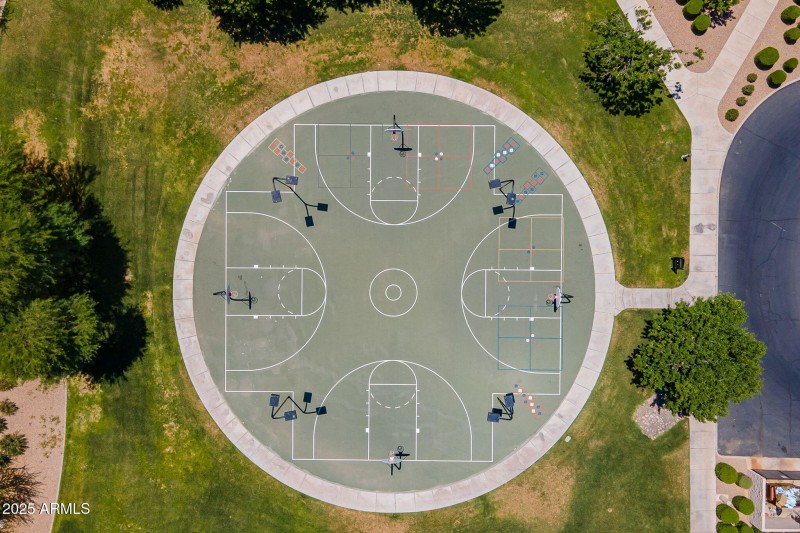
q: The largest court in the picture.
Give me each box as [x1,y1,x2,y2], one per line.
[194,91,594,492]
